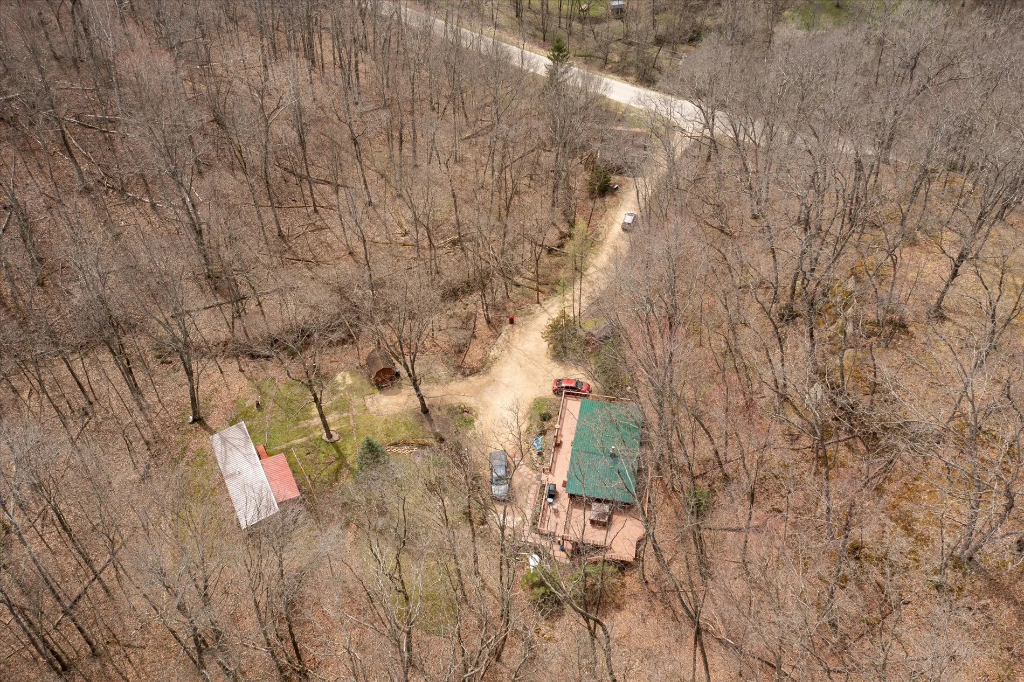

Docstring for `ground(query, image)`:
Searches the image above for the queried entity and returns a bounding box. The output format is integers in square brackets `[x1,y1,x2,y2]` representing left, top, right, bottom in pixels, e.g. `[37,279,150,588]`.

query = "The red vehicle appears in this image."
[552,376,592,394]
